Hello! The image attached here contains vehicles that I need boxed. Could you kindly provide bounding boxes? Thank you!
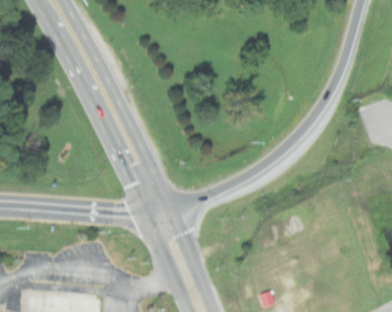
[198,195,208,200]
[118,152,128,165]
[324,90,331,100]
[96,104,104,118]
